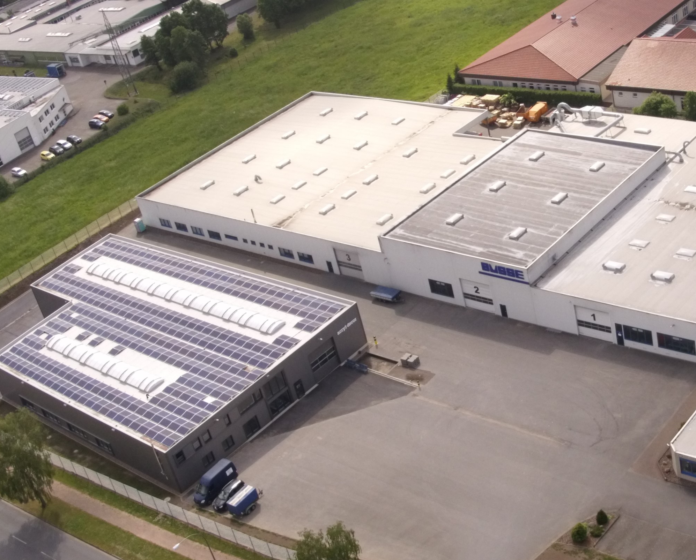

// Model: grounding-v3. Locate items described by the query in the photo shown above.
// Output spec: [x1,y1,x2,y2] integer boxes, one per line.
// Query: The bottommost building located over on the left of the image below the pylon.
[0,233,368,494]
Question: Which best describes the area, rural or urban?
urban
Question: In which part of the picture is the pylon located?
top left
